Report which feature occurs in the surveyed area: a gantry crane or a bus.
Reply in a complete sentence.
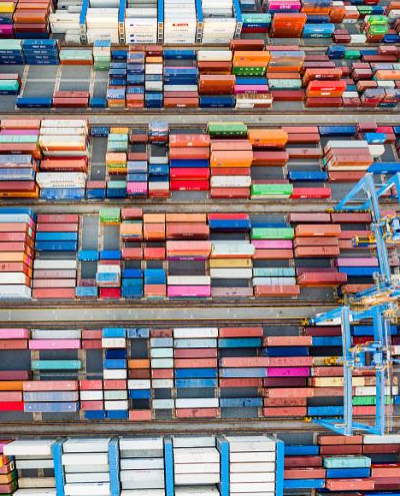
I can see a gantry crane in this picture.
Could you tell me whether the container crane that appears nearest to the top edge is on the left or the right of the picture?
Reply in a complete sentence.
The container crane that appears nearest to the top edge sits on the right side.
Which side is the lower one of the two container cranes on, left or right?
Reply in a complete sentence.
The lower one of the two container cranes sits on the right side.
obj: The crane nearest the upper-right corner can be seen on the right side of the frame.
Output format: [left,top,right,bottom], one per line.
[323,182,400,307]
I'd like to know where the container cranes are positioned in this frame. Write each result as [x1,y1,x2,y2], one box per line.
[323,182,400,307]
[300,312,400,449]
